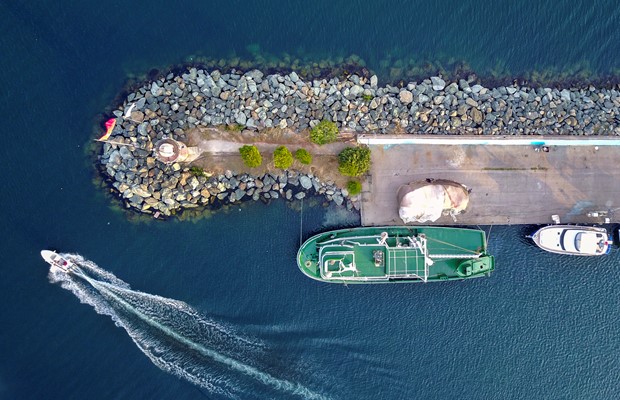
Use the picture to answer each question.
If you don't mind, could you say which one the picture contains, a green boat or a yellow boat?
green boat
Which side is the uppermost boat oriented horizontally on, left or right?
right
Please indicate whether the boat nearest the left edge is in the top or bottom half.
bottom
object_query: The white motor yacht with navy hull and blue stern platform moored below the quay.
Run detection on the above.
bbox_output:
[526,224,613,255]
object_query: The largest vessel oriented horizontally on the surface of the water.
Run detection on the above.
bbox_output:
[297,224,489,287]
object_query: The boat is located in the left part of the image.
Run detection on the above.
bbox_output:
[41,251,76,272]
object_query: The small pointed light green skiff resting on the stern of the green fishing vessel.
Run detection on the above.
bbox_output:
[457,255,495,276]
